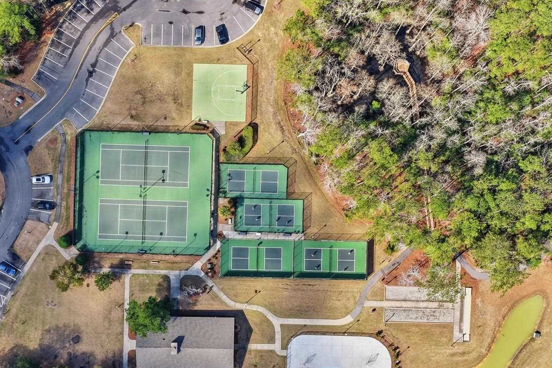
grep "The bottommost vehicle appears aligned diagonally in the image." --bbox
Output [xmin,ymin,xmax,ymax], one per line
[0,263,16,275]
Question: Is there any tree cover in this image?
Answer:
Yes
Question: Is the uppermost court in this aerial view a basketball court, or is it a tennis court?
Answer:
basketball court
